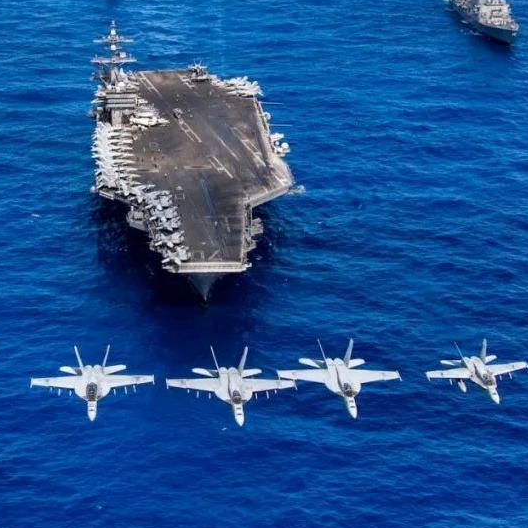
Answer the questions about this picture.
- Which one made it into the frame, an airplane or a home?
airplane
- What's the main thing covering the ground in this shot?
water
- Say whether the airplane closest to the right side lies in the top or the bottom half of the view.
bottom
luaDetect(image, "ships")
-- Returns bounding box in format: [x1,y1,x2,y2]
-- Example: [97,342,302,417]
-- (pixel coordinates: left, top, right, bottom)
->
[84,20,309,304]
[455,0,520,47]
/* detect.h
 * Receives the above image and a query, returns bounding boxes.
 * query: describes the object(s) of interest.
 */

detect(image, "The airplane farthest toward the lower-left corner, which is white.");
[31,343,154,420]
